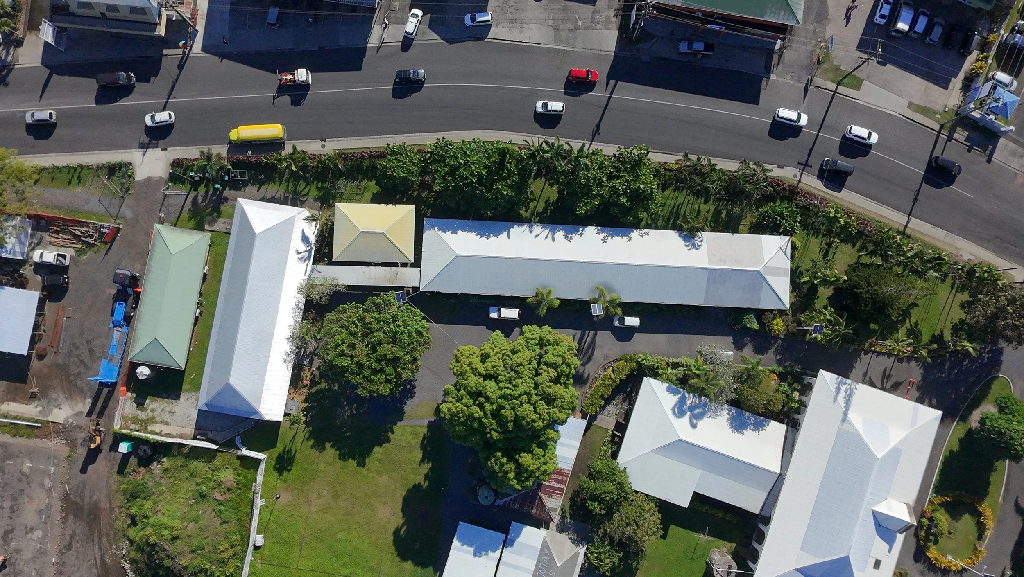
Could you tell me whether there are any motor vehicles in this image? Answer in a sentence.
Yes, the photo shows a motor vehicle.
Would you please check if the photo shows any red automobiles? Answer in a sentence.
Yes, a red automobile is visible in the scene.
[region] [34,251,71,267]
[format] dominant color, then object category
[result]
white car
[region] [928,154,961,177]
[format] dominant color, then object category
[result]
black car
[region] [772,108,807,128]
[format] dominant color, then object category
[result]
white car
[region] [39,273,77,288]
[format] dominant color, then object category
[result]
black car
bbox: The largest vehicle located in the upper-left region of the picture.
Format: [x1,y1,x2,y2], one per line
[229,124,291,146]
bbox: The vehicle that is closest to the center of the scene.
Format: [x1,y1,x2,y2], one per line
[489,306,520,321]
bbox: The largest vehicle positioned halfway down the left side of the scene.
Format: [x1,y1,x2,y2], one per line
[83,268,136,382]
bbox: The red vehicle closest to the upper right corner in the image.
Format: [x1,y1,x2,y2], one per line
[568,68,598,84]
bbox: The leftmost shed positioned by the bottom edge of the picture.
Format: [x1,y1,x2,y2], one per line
[442,520,506,577]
